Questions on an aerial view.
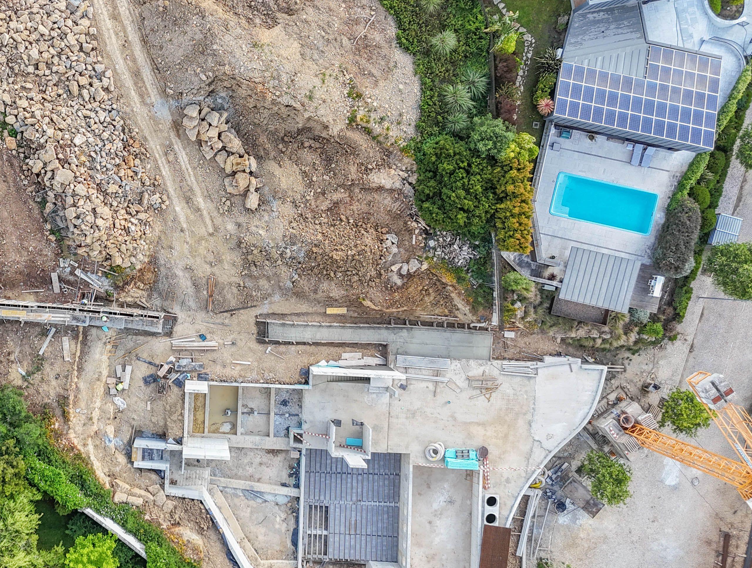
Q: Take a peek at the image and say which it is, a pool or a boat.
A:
pool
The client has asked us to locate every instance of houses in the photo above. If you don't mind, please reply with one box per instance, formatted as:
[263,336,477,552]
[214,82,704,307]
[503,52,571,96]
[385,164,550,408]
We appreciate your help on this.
[132,357,607,568]
[545,0,752,152]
